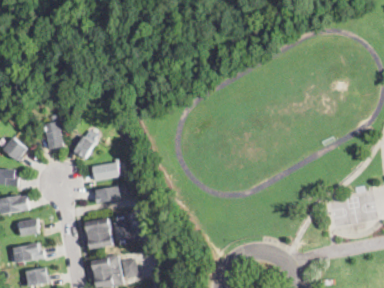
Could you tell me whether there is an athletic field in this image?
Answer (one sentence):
Yes, there is an athletic field in the image.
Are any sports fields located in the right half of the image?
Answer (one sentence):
Yes, in the right half of the image there is a sports field.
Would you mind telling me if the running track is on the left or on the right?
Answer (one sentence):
It is on the right.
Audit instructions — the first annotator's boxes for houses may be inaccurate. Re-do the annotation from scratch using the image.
[84,217,116,250]
[12,242,48,262]
[16,217,41,236]
[96,184,123,204]
[47,122,65,150]
[3,136,30,162]
[74,127,102,159]
[92,161,120,182]
[0,166,21,187]
[90,251,128,288]
[24,264,52,287]
[0,193,32,214]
